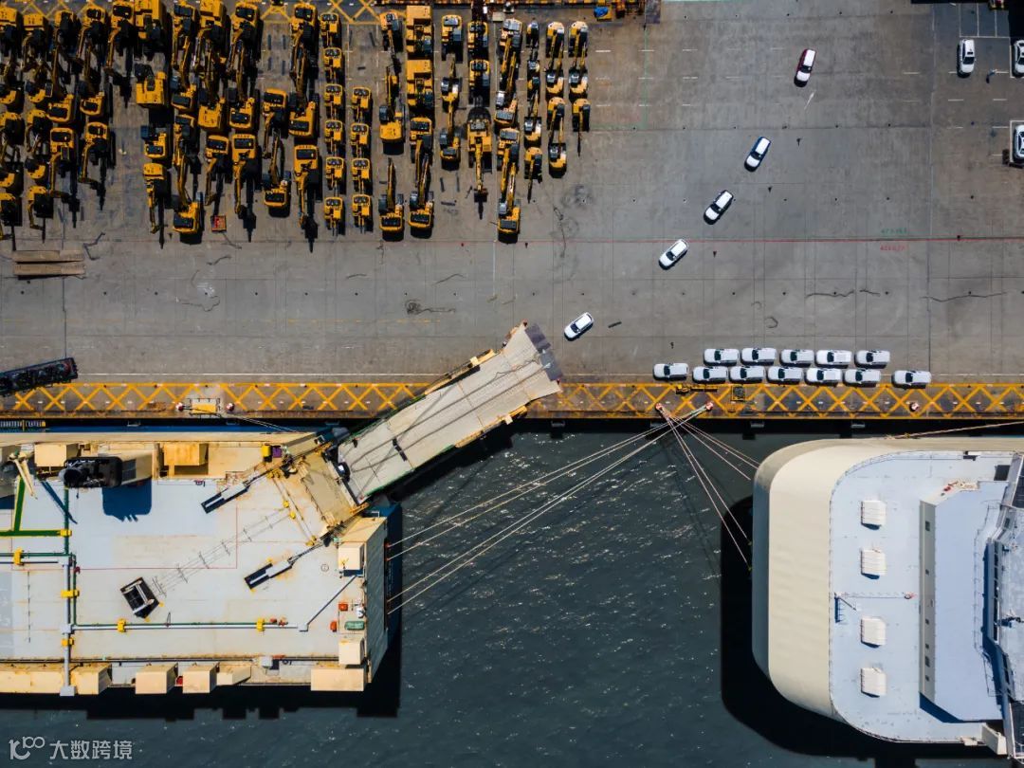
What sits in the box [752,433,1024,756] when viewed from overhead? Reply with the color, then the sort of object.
white ship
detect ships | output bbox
[0,321,574,695]
[752,433,1024,756]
